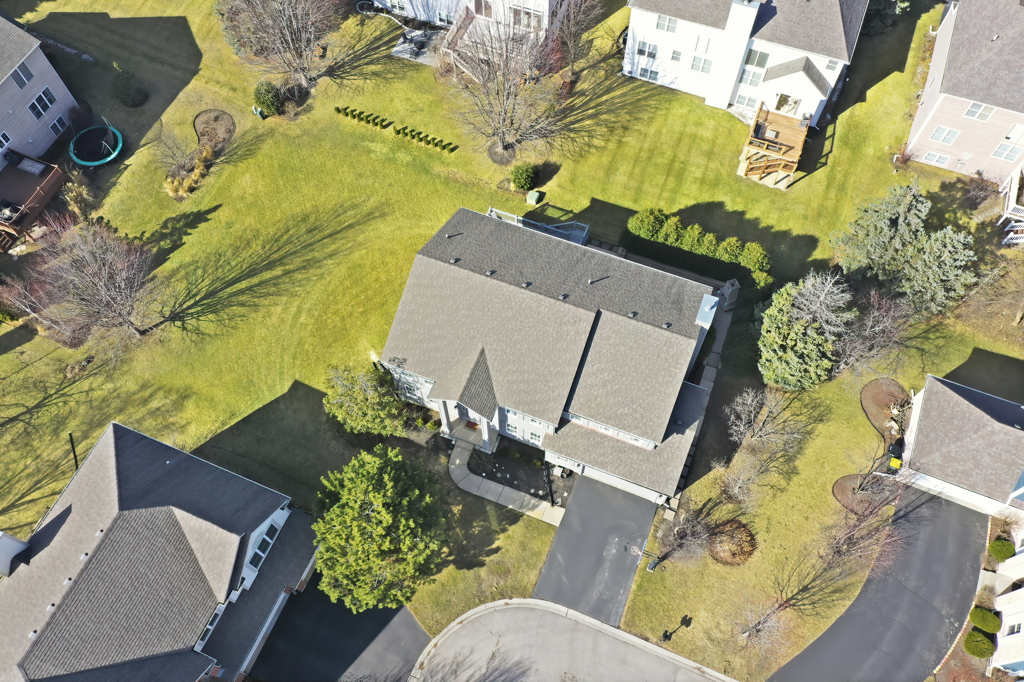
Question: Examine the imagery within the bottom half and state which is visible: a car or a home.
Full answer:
Looking within the bottom half, you will find a home.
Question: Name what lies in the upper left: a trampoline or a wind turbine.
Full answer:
The feature located in the upper left is a trampoline.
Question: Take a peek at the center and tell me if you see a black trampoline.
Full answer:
No, at the center there is no black trampoline.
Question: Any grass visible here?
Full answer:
Yes, there's grass in this view.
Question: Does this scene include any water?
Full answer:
No, there's no water in this view.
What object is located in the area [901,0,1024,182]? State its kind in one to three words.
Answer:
house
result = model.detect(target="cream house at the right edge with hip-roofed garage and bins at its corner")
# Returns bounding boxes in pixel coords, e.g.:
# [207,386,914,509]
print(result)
[866,373,1024,682]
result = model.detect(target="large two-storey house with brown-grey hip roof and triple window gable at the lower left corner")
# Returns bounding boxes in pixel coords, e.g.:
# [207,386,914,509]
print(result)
[0,420,332,682]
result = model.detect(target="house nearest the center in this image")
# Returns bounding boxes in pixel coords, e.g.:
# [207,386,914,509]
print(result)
[378,208,720,514]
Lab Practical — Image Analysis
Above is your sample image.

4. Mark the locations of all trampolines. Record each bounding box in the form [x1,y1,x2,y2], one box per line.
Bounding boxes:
[57,110,121,164]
